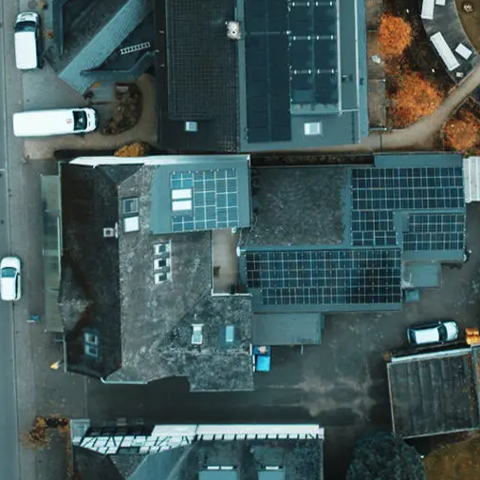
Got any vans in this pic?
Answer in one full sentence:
Yes, a van is visible in the scene.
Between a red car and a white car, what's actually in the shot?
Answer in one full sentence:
Of the two, only a white car appears.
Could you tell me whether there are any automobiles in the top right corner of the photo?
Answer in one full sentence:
No, looking in the top right corner of the photo, there is no automobile.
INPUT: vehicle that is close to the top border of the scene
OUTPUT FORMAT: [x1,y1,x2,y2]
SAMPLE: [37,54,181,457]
[12,12,43,70]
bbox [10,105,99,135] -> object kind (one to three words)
van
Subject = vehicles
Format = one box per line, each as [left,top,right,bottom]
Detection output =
[406,319,459,347]
[0,256,23,303]
[12,12,43,70]
[10,105,99,135]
